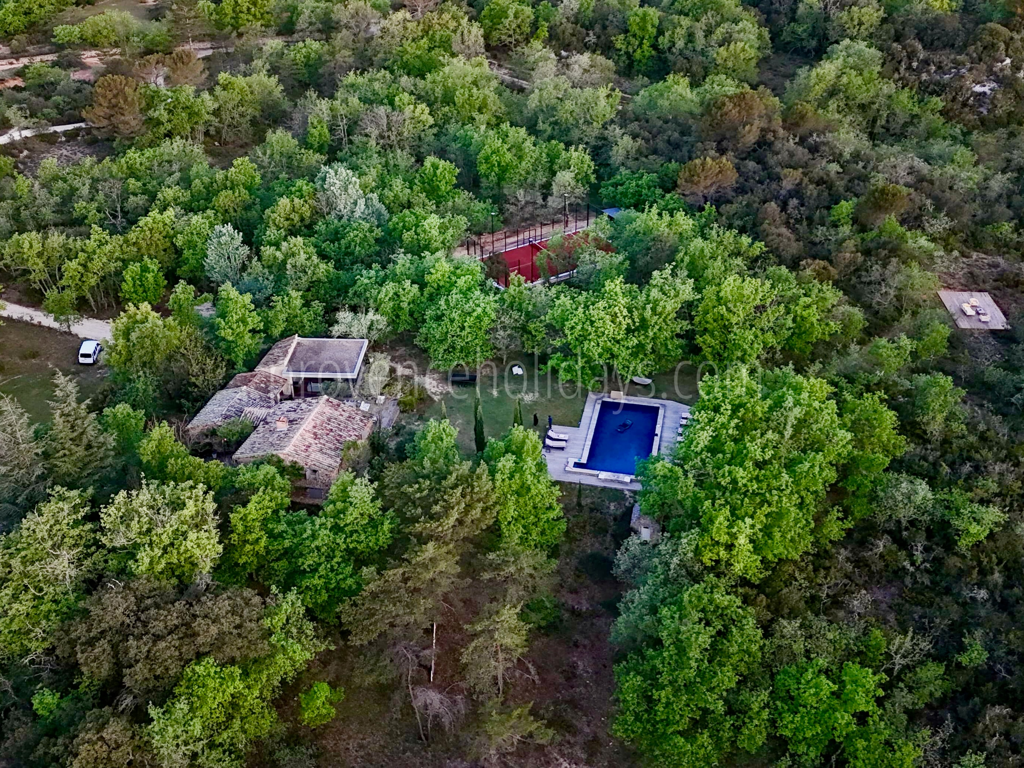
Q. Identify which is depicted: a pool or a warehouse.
pool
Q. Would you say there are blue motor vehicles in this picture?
No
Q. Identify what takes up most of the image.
trees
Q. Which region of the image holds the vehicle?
left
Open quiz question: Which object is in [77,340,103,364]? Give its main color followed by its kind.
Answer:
white vehicle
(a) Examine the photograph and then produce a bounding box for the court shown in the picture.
[472,201,635,287]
